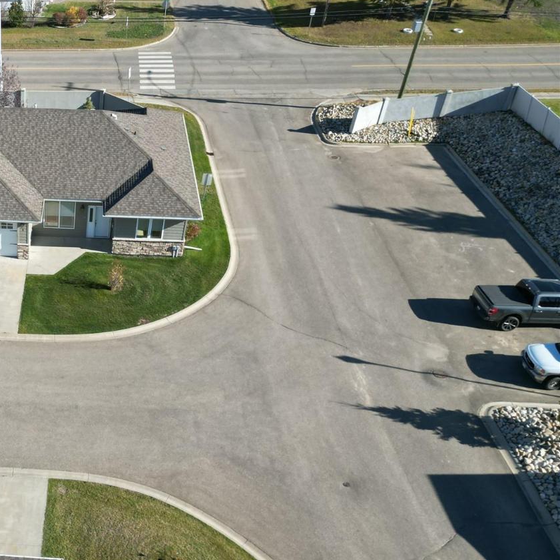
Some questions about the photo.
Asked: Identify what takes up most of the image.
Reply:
paved ground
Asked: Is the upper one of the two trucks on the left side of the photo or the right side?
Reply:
right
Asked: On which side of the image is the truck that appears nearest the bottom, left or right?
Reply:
right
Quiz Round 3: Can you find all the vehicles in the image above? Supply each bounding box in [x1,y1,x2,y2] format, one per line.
[517,336,560,390]
[468,274,560,329]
